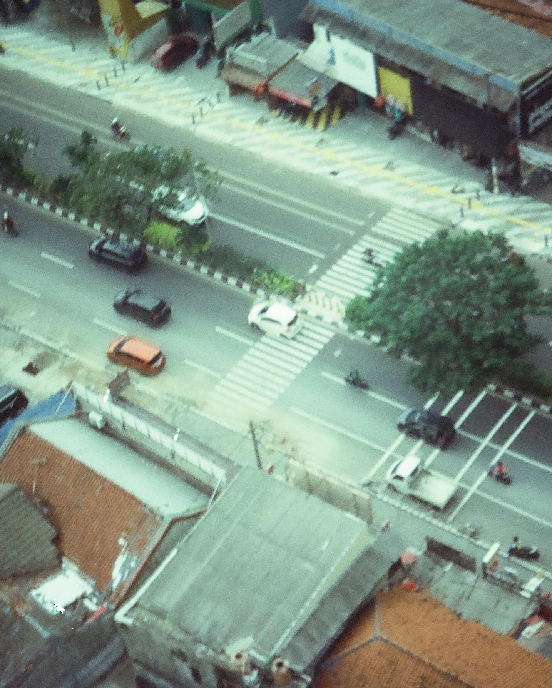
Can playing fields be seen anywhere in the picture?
No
